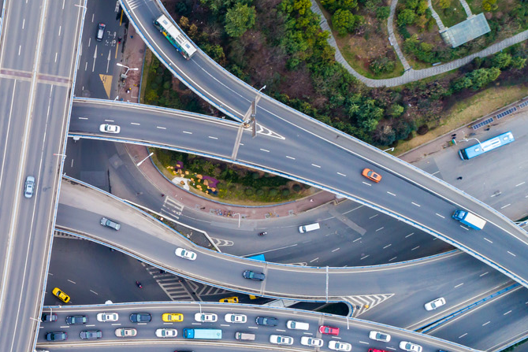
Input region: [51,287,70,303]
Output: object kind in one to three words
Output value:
car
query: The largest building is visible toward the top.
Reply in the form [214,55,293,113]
[436,12,491,44]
